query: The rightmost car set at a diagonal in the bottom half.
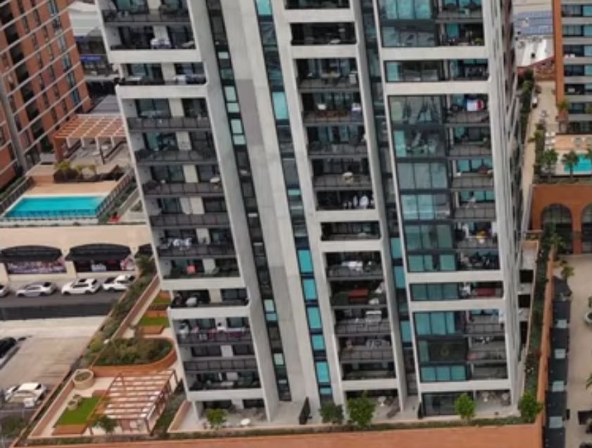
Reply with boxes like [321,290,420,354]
[103,275,131,294]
